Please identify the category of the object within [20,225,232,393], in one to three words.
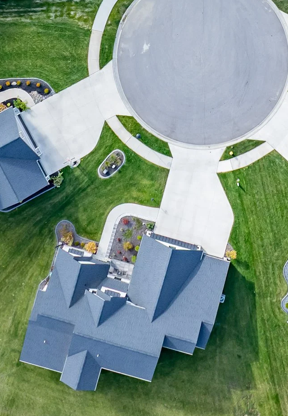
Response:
house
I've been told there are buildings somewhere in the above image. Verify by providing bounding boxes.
[20,225,232,393]
[0,105,55,210]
